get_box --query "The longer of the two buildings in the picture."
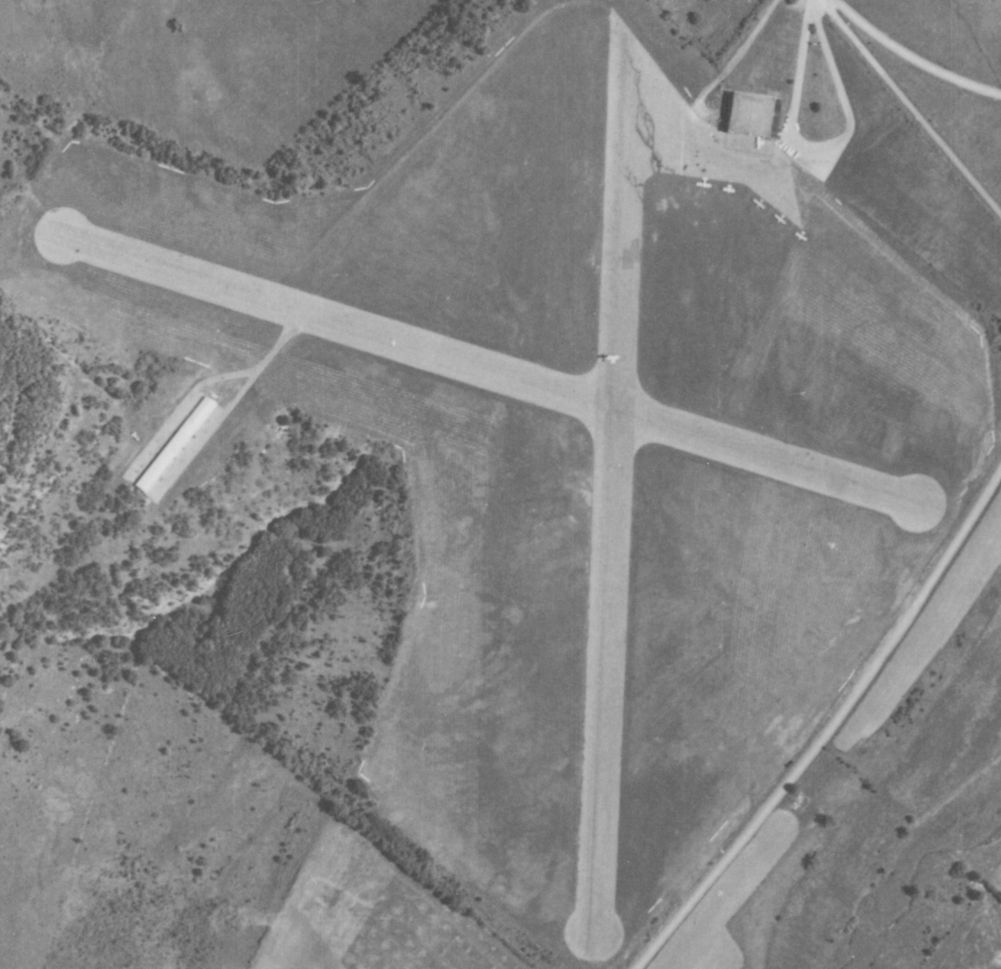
[137,397,217,494]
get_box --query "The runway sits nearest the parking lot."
[565,9,650,962]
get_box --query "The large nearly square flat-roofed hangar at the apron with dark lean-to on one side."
[728,91,781,137]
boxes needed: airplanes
[723,183,736,193]
[757,136,766,149]
[606,354,621,365]
[796,230,807,241]
[775,213,786,224]
[696,176,713,188]
[754,197,765,208]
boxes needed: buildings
[137,397,217,494]
[728,91,781,137]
